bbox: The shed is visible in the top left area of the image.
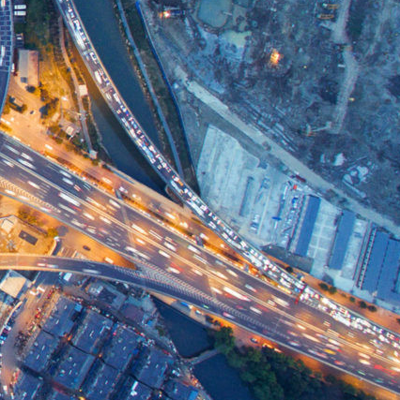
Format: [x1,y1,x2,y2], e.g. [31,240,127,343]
[18,49,38,86]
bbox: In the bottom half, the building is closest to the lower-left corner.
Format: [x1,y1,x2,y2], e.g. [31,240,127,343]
[11,366,42,400]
